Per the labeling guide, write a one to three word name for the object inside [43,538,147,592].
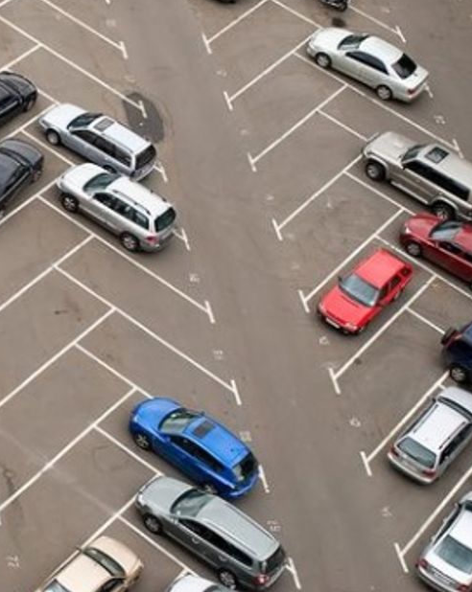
car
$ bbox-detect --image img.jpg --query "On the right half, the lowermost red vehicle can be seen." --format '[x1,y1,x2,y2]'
[319,250,413,337]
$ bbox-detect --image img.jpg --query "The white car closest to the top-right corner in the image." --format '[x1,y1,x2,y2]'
[311,30,426,105]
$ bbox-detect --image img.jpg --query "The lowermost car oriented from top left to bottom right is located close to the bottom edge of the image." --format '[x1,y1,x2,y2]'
[138,477,291,592]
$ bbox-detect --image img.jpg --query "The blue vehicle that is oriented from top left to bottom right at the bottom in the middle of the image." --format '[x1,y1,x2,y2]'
[128,398,265,503]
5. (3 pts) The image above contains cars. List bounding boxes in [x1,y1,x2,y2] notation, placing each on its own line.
[361,132,472,223]
[311,30,426,105]
[43,538,147,592]
[389,385,472,484]
[128,398,265,503]
[0,68,42,127]
[38,101,163,185]
[59,167,181,255]
[319,250,413,337]
[417,493,472,592]
[155,569,235,592]
[434,313,472,385]
[0,141,50,215]
[400,213,472,286]
[138,477,291,592]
